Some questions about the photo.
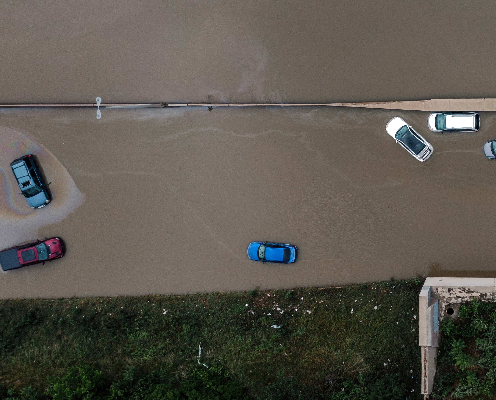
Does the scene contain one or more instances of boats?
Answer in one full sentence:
No, there appears to be no boat in this shot.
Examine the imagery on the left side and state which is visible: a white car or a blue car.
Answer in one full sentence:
The feature located on the left side is a blue car.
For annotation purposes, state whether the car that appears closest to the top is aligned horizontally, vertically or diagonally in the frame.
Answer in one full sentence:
In this picture, the car that appears closest to the top is oriented horizontally.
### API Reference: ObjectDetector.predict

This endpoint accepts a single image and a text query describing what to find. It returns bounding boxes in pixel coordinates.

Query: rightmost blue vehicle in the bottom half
[249,241,298,266]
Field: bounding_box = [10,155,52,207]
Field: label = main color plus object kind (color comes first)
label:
blue car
